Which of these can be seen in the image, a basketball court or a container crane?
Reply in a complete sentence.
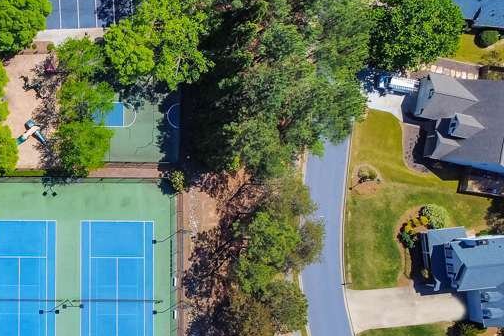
There is a basketball court in the scene.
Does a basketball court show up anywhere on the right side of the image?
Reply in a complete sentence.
No, I can find no basketball court on the right side of the image.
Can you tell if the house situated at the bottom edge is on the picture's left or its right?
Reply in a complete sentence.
The house situated at the bottom edge sits on the right side.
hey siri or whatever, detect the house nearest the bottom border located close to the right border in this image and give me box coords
[418,227,504,332]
